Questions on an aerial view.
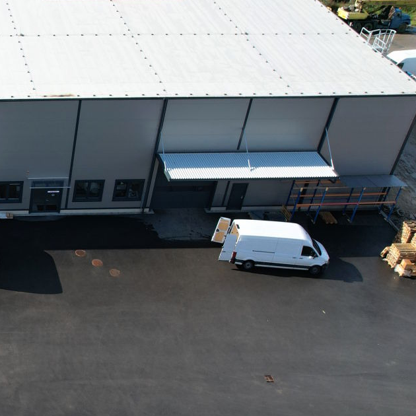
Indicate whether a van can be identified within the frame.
Yes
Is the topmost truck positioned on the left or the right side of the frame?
right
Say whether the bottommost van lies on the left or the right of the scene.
right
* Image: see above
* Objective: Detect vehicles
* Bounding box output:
[386,49,416,76]
[216,223,331,275]
[330,0,416,35]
